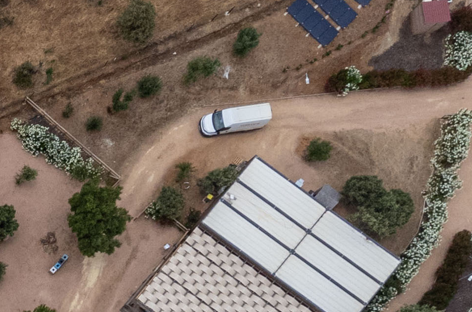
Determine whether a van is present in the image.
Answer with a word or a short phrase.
Yes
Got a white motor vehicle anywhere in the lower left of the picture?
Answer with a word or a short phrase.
No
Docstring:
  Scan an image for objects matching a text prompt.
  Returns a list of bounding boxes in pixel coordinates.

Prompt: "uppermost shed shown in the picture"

[408,0,450,39]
